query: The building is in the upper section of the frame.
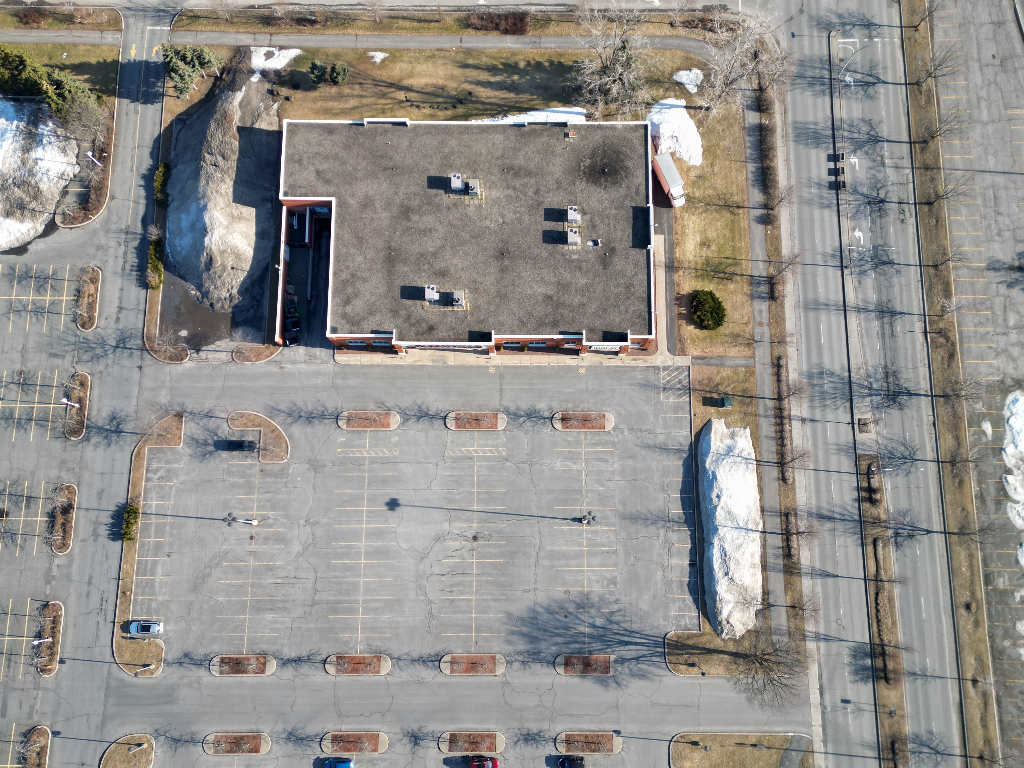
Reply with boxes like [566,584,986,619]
[278,116,660,356]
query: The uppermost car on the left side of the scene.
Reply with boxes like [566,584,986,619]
[228,438,259,453]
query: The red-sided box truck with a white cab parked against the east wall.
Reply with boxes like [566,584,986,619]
[652,151,689,211]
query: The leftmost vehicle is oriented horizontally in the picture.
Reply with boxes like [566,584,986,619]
[129,620,164,637]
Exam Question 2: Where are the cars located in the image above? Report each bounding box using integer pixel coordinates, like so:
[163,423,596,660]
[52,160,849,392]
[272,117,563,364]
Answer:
[228,438,259,453]
[468,757,501,768]
[129,620,164,637]
[324,758,355,768]
[557,756,587,768]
